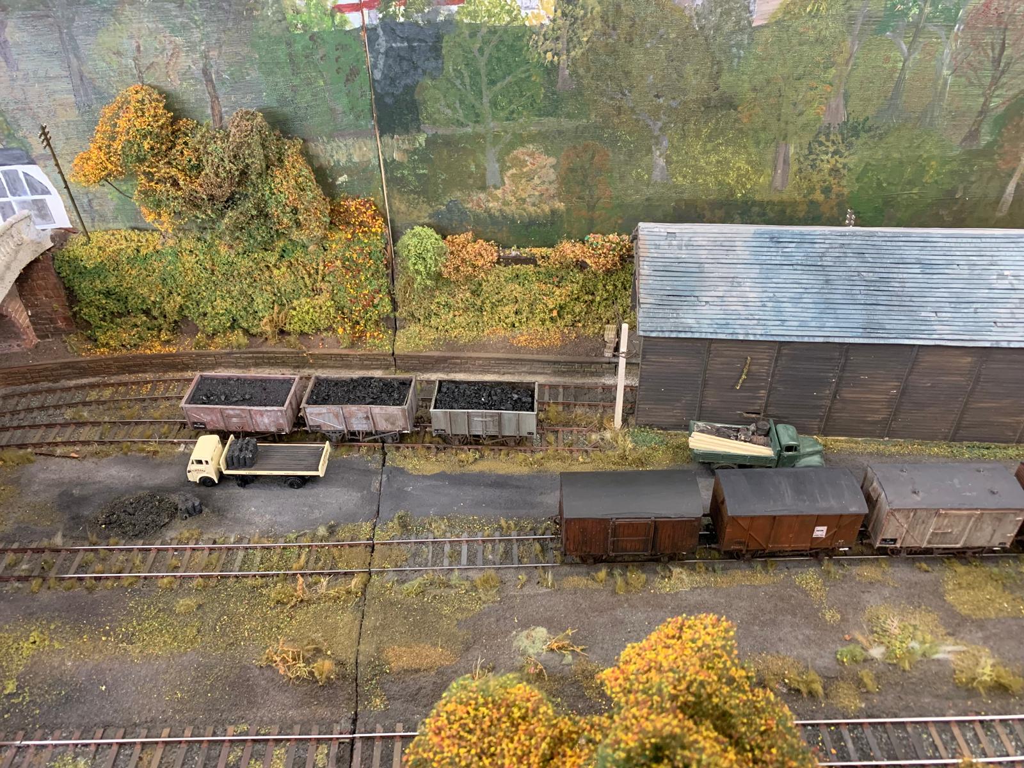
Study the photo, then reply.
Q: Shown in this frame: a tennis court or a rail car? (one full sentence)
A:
I can see a rail car in this picture.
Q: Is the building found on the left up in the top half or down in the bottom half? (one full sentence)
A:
The building found on the left is in the top half of the image.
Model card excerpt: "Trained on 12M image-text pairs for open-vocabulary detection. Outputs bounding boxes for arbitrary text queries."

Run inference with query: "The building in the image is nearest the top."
[0,147,81,235]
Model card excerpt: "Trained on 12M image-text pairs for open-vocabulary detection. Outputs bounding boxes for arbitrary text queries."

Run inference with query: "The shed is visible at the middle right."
[634,224,1024,445]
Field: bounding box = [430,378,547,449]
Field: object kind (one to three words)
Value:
rail car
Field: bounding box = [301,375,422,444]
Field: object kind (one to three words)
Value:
rail car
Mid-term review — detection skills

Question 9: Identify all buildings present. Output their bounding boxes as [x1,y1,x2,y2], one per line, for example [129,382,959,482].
[634,224,1024,445]
[0,147,81,235]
